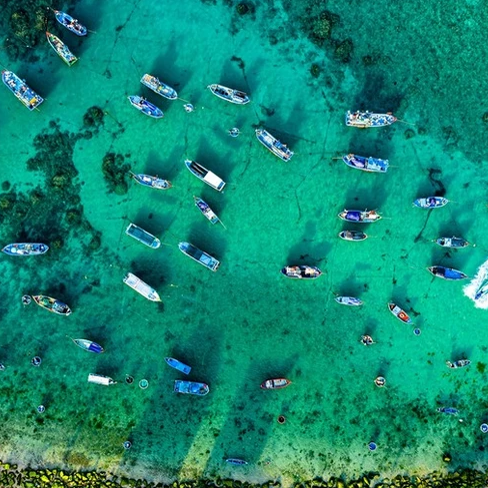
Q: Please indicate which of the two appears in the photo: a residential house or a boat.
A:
boat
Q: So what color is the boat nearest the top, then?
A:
blue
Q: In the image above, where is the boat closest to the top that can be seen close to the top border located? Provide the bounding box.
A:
[49,6,96,40]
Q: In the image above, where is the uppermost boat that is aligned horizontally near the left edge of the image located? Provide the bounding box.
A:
[0,243,51,256]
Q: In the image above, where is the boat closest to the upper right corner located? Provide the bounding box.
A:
[344,108,415,126]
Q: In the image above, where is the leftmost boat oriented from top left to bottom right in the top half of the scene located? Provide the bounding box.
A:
[0,68,42,110]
